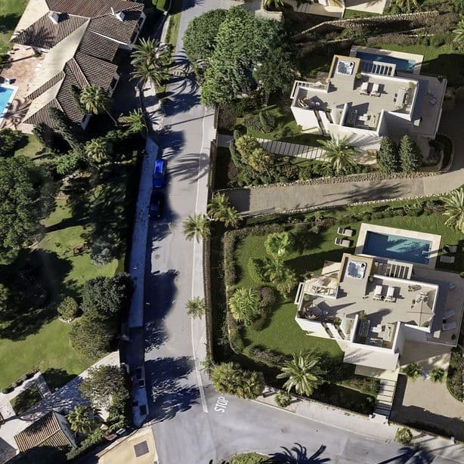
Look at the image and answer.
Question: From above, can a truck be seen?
No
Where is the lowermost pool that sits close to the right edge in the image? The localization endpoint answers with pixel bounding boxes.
[354,223,442,269]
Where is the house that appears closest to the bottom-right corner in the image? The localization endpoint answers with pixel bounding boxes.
[292,251,464,398]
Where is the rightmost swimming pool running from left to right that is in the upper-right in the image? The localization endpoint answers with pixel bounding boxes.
[348,45,424,78]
